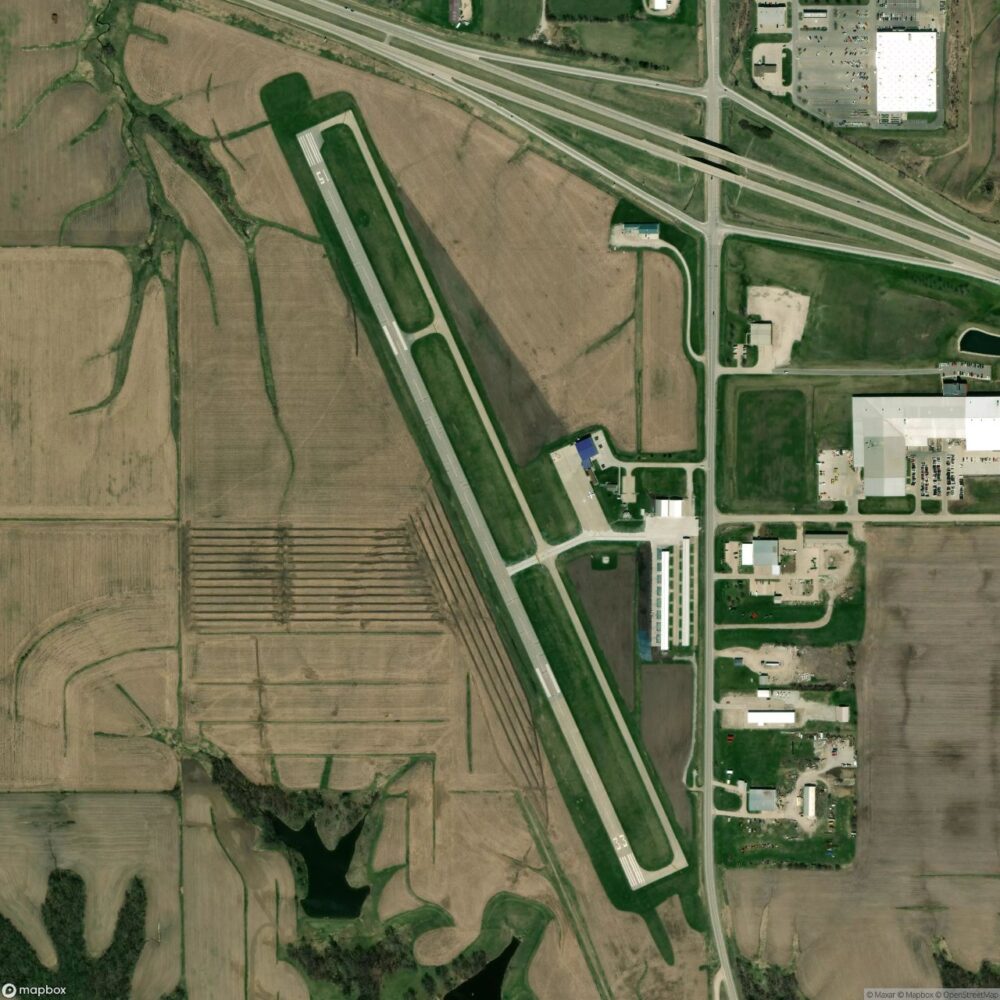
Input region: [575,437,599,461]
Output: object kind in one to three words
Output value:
hangar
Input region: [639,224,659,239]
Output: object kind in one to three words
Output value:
building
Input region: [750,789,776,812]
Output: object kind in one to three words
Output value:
barn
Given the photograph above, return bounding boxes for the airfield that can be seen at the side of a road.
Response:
[296,110,698,890]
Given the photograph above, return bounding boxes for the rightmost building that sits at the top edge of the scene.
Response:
[876,31,937,111]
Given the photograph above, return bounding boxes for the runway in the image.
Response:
[296,129,646,890]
